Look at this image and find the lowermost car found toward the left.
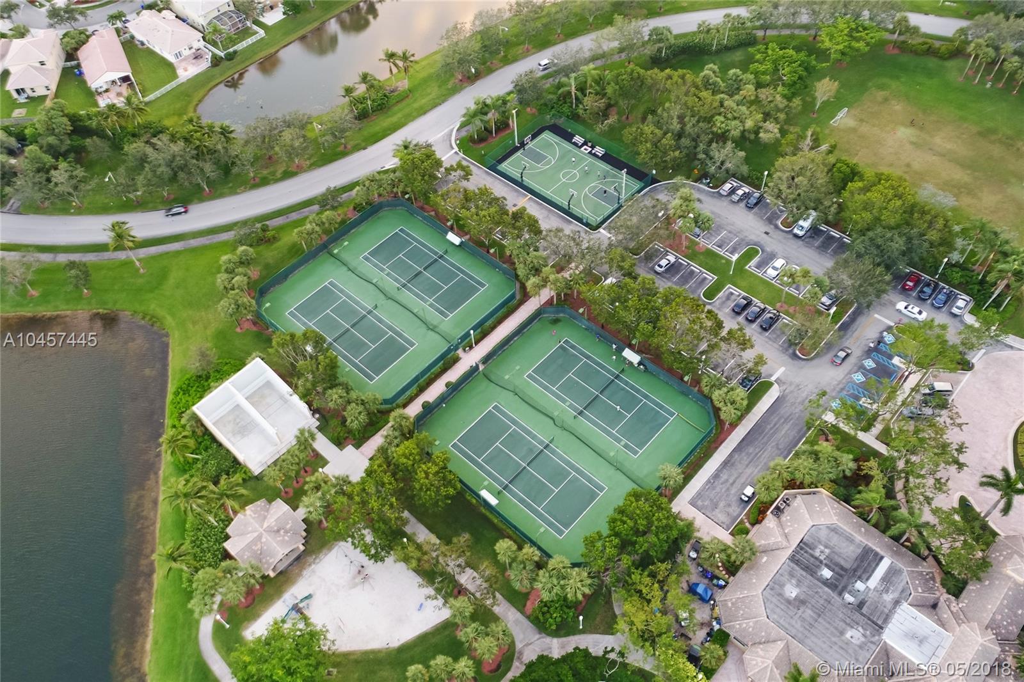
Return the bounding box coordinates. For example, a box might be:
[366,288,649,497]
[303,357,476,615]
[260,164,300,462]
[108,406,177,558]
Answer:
[165,203,187,216]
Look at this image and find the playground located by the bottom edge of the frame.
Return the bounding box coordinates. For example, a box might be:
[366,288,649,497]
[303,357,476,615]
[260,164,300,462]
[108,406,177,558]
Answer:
[244,537,448,652]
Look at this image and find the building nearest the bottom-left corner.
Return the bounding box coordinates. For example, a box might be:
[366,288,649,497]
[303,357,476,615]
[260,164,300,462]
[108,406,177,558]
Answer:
[224,499,313,584]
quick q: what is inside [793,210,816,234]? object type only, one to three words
vehicle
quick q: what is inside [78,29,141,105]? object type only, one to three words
house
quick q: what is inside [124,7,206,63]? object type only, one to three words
house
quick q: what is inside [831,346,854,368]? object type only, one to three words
car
